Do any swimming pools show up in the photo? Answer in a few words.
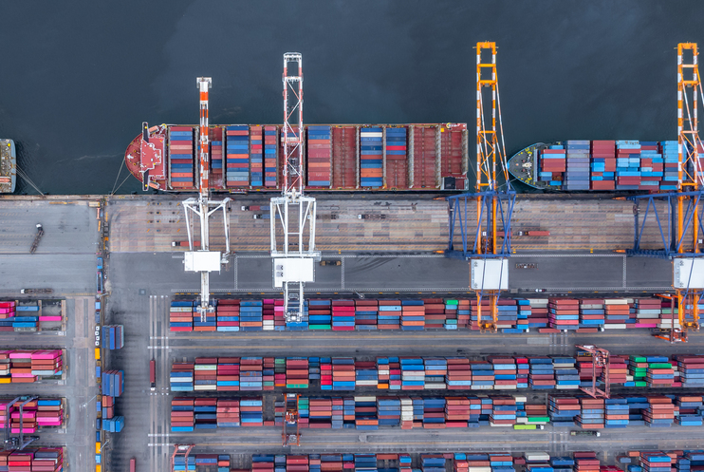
No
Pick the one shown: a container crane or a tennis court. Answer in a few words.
container crane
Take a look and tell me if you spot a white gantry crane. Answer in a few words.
Yes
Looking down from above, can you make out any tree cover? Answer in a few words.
No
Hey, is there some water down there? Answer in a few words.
Yes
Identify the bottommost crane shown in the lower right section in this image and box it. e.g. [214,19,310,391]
[575,345,611,397]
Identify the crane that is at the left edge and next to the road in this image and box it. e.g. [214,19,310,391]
[4,396,39,451]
